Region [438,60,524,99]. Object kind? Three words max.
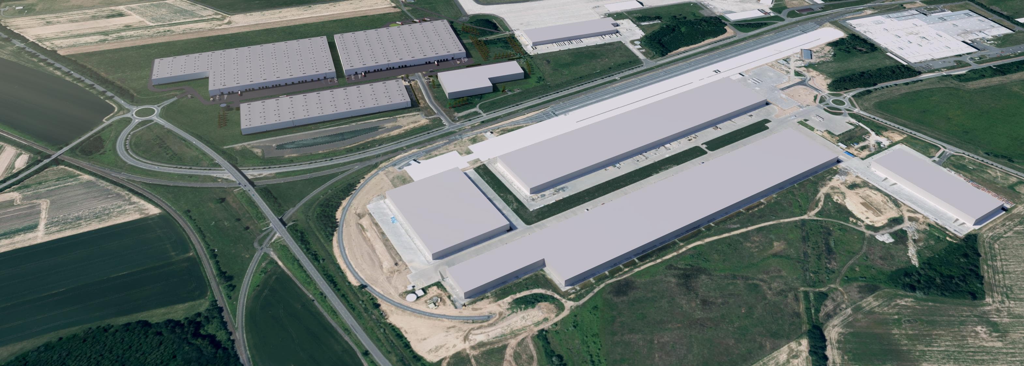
building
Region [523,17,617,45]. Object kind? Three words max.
building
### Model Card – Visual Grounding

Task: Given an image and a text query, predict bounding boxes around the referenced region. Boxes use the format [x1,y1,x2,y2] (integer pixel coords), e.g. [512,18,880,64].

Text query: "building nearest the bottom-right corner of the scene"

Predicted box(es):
[870,148,1004,226]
